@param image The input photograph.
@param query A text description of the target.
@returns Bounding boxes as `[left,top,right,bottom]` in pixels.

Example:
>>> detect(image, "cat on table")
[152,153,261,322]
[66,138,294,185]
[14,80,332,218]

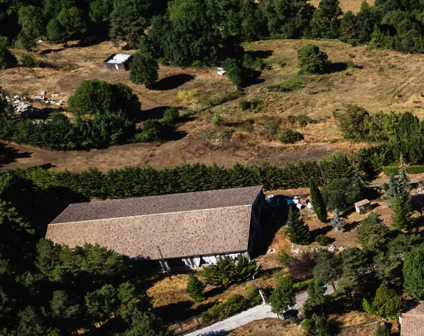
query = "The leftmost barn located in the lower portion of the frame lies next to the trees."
[40,185,264,284]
